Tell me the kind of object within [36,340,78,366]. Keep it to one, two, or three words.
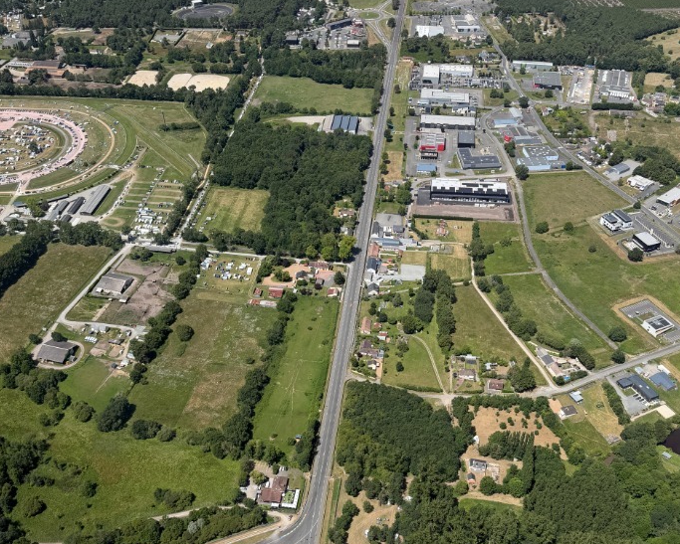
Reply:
barn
